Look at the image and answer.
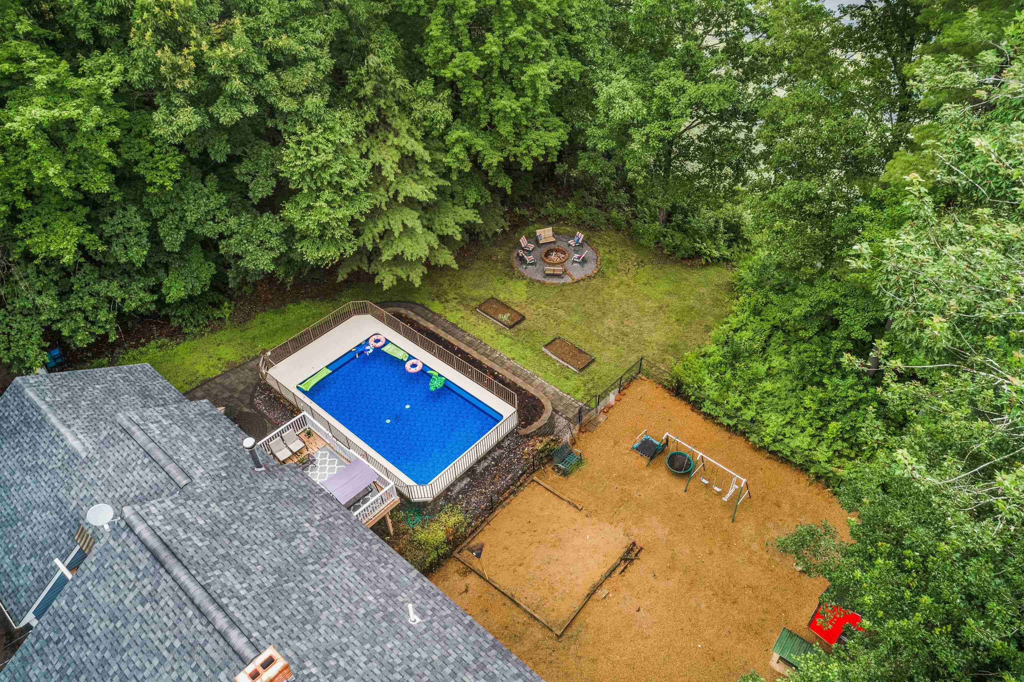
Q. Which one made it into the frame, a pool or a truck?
pool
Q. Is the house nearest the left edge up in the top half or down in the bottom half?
bottom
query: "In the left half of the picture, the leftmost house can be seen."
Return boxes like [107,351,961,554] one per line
[0,362,545,682]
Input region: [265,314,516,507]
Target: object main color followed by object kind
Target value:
blue swimming pool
